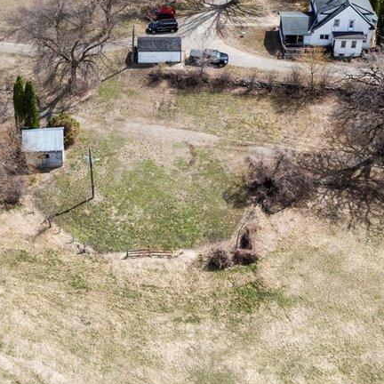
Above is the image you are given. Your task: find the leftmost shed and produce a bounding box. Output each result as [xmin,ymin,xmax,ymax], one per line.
[23,125,67,170]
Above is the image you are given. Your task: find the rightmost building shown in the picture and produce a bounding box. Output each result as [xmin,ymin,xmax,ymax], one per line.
[278,0,381,65]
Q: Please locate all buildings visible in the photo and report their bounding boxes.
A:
[135,34,182,63]
[278,0,381,65]
[23,125,67,170]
